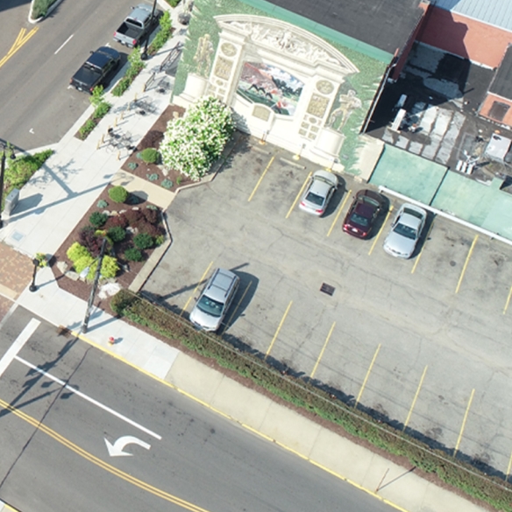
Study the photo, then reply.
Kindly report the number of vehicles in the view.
six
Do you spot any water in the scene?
No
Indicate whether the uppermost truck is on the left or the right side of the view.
left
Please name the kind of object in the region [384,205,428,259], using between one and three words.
car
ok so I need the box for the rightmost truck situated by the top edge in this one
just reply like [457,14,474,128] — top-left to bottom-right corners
[112,6,158,48]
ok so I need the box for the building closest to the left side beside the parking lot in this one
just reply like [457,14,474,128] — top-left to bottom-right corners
[171,0,424,174]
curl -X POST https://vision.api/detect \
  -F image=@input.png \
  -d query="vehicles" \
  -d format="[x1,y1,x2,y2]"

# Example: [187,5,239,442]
[189,266,240,331]
[384,205,428,259]
[297,173,338,218]
[112,6,158,48]
[342,193,386,241]
[68,49,121,95]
